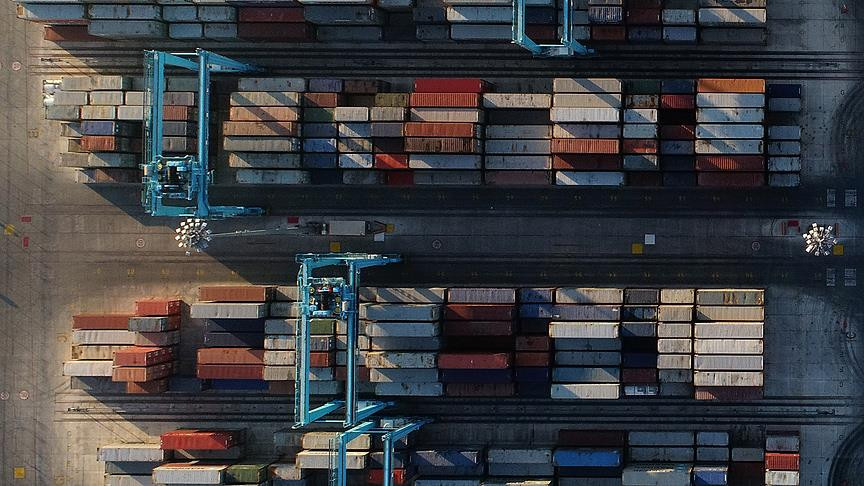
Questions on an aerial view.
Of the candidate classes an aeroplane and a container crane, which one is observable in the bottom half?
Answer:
container crane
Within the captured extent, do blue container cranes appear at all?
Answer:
Yes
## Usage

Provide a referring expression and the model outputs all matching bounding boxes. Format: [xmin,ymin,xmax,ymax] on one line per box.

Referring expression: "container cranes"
[329,413,435,486]
[293,254,401,435]
[509,0,597,57]
[136,46,267,217]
